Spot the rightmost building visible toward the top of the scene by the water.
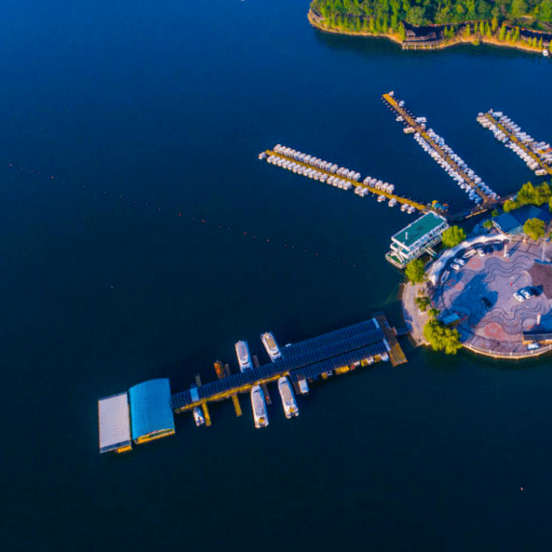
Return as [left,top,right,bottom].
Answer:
[490,197,550,235]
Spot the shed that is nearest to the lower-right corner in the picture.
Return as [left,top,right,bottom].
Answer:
[522,327,552,344]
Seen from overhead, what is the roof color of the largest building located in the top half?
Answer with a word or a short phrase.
blue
